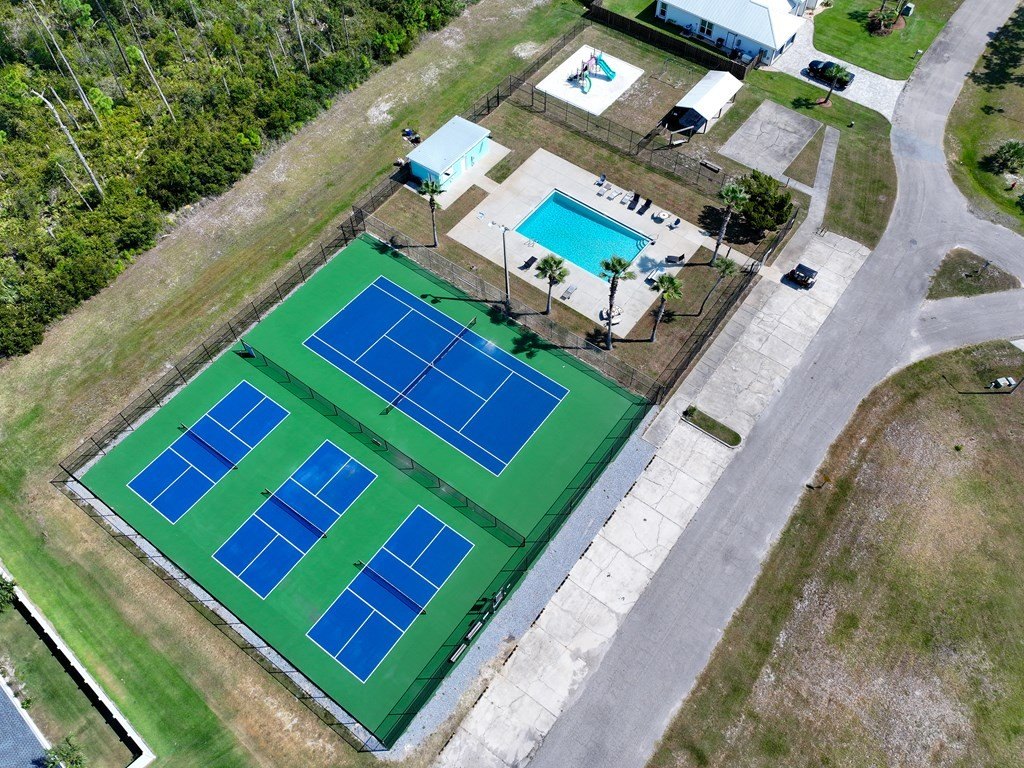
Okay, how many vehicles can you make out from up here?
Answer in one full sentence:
There are 2 vehicles in the image.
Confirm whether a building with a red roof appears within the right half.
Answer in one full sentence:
No, no building with a red roof appears within the right half.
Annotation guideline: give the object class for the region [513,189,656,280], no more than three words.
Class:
swimming pool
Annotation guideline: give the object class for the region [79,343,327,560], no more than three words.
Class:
sports court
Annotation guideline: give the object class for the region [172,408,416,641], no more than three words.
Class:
sports court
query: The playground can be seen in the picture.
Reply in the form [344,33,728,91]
[570,46,622,95]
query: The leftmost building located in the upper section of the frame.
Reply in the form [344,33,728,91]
[406,112,492,191]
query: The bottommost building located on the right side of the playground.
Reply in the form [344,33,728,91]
[673,70,744,137]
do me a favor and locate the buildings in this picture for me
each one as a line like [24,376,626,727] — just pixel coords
[406,112,492,191]
[673,70,744,137]
[0,672,65,768]
[655,0,834,65]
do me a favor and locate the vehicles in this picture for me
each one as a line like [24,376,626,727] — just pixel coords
[805,58,852,86]
[788,262,817,289]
